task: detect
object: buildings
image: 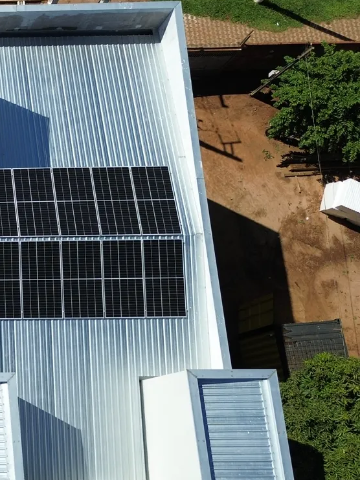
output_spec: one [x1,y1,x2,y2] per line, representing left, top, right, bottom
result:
[312,180,360,230]
[0,2,293,480]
